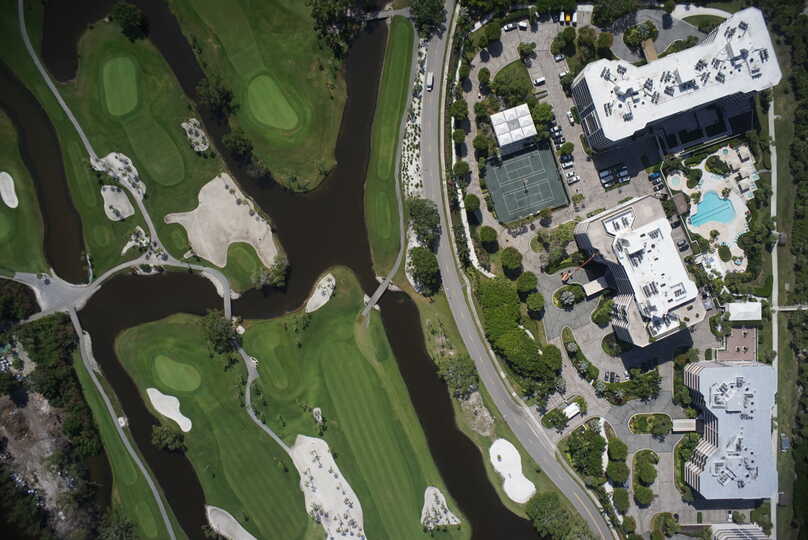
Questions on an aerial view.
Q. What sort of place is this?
golf course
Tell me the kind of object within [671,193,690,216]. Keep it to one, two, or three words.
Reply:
gazebo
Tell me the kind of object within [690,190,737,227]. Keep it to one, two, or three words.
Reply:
swimming pool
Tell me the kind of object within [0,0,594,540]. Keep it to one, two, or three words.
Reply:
golf course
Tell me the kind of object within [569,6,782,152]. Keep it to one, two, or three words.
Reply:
building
